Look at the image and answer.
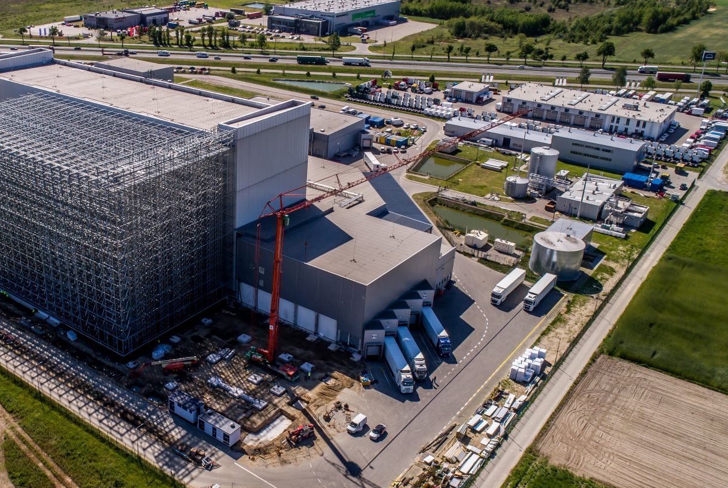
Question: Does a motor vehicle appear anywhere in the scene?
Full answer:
Yes, a motor vehicle is visible in the scene.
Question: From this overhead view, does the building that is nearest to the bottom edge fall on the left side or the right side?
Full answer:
It is on the left.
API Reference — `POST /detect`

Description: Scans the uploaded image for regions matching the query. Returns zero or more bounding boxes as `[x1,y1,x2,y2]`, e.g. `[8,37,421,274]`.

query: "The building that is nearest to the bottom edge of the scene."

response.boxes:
[198,408,242,447]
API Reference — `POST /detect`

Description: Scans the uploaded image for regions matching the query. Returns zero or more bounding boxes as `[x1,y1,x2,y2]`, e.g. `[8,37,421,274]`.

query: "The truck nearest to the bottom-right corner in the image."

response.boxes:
[522,275,557,312]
